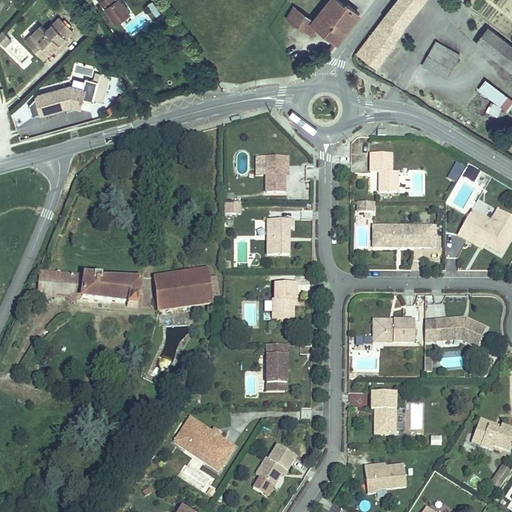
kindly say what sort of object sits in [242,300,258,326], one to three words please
swimming pool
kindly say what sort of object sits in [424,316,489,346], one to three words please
house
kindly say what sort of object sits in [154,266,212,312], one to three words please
barn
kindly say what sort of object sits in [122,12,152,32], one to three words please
swimming pool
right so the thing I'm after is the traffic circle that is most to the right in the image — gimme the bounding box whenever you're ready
[296,79,355,140]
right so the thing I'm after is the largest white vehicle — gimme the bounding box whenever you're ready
[288,112,318,136]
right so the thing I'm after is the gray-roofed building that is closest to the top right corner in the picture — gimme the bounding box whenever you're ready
[476,30,512,72]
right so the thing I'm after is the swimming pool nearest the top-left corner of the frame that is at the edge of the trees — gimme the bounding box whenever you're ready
[72,63,94,78]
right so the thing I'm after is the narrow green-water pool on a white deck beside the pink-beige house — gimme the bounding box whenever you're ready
[234,236,250,267]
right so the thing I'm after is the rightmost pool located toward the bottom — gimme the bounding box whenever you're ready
[439,352,464,372]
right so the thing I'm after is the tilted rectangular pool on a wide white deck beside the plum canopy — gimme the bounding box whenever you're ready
[446,163,490,214]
